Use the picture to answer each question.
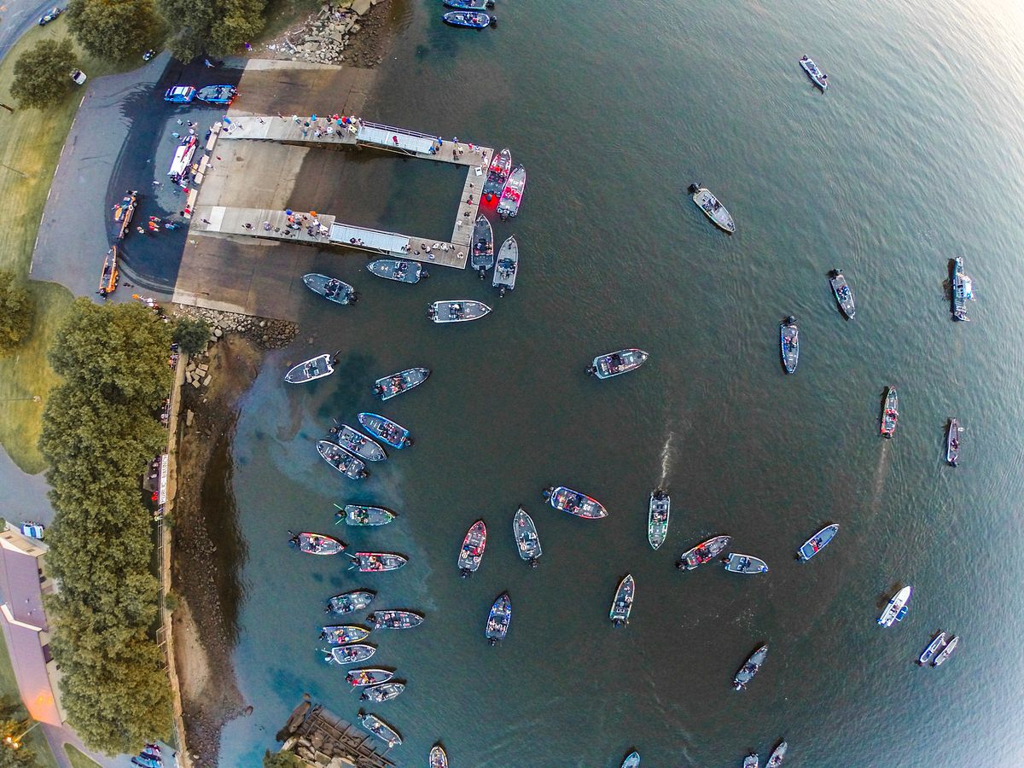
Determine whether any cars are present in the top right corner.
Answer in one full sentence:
No, in the top right corner there is no car.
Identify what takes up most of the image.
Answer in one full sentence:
Most of the picture is covered by water.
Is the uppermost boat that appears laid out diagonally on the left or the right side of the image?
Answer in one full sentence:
You can find the uppermost boat that appears laid out diagonally on the right side of the picture.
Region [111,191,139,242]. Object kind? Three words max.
truck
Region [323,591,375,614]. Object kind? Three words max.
boat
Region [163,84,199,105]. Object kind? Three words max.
car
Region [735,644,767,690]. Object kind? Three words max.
boat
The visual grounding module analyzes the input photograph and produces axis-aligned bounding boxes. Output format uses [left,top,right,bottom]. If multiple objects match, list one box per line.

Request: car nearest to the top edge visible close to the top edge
[37,2,65,28]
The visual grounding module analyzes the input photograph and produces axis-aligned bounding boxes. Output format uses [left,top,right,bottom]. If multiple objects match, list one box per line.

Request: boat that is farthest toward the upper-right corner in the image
[799,50,828,90]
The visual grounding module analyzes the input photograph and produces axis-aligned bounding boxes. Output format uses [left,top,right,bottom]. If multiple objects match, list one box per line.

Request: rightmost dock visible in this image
[406,139,494,270]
